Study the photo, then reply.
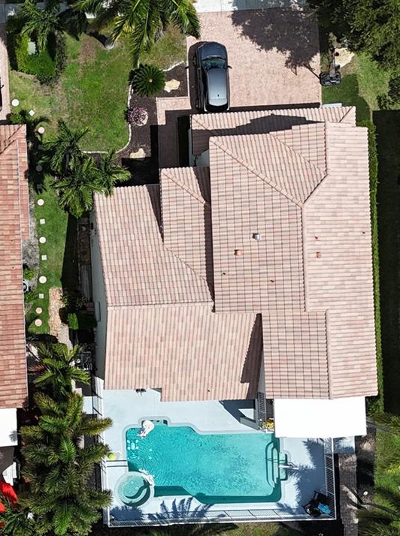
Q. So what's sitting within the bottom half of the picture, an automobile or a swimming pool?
swimming pool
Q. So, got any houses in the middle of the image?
Yes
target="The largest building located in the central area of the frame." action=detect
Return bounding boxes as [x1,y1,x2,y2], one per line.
[90,104,379,402]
